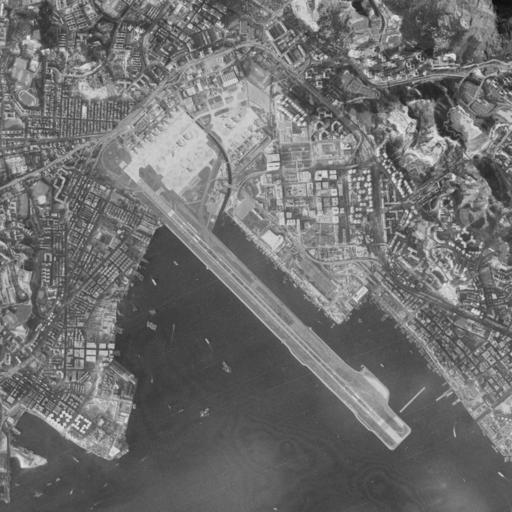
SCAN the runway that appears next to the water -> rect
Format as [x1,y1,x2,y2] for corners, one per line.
[132,176,402,444]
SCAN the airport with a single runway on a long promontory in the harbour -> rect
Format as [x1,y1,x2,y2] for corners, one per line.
[101,100,409,448]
